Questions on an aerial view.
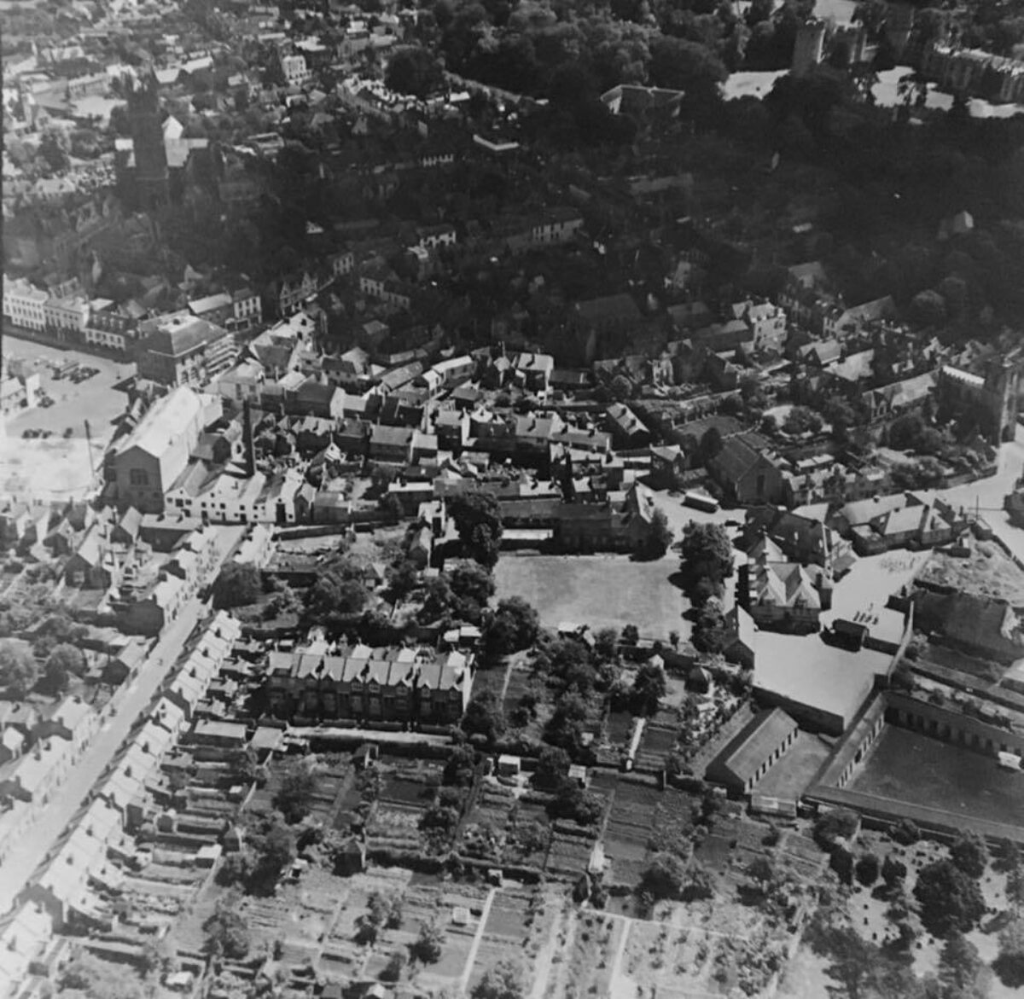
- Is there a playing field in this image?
Yes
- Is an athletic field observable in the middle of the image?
Yes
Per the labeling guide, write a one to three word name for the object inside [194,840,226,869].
shed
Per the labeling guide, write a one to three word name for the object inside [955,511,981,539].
house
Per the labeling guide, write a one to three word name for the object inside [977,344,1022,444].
building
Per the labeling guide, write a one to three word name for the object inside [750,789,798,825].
greenhouse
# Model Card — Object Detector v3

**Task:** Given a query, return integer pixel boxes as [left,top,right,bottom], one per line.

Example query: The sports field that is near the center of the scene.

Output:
[492,552,692,640]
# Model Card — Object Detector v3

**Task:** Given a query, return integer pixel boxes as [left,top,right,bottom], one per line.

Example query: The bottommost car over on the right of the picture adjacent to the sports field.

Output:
[666,539,686,551]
